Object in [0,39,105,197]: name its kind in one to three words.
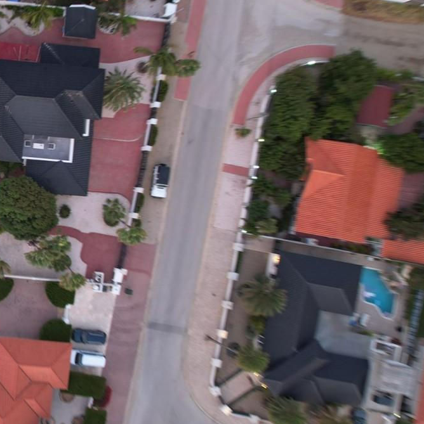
house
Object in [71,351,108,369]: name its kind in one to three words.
car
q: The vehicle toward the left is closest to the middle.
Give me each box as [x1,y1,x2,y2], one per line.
[151,163,170,198]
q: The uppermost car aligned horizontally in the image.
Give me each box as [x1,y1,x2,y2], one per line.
[73,329,108,348]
